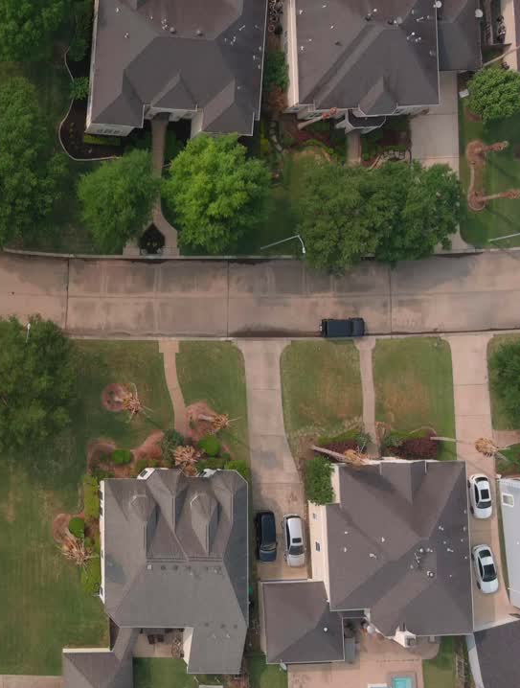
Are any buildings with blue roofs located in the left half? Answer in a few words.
No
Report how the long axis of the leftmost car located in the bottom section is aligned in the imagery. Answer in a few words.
up and down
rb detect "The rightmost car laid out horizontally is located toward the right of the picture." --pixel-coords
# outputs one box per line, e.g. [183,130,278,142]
[319,318,364,338]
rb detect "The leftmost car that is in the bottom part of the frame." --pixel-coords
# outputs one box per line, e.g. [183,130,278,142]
[252,513,278,561]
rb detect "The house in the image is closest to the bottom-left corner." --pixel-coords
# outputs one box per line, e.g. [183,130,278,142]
[61,464,249,688]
